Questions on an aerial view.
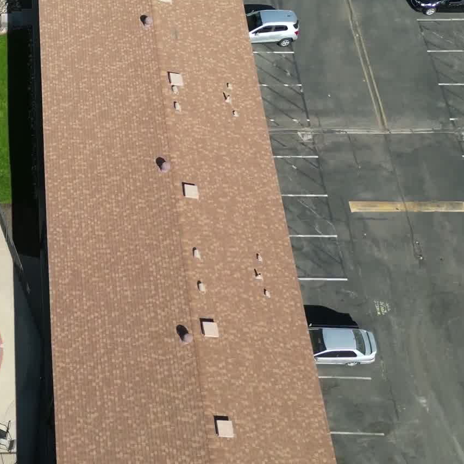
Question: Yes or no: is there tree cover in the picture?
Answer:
No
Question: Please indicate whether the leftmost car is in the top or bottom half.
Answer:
top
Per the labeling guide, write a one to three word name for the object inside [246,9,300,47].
car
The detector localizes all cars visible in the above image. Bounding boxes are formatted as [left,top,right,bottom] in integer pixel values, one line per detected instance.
[308,322,379,366]
[417,0,464,15]
[246,9,300,47]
